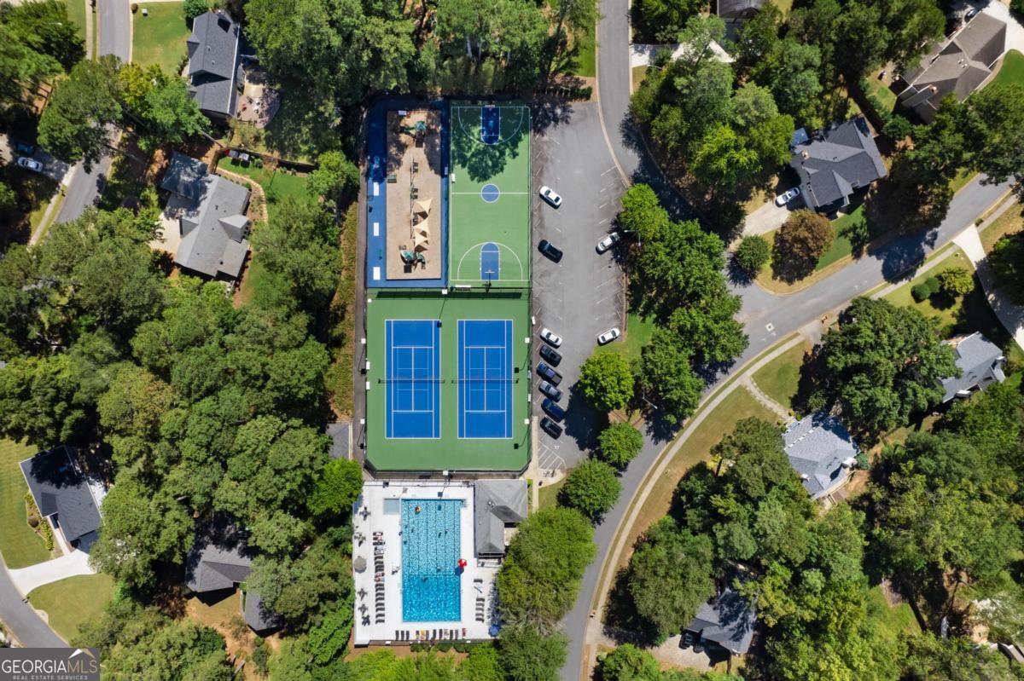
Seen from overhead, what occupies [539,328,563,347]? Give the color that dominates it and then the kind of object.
white car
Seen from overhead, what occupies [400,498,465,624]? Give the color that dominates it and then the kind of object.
blue swimming pool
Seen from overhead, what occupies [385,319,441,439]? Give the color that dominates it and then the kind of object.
blue tennis court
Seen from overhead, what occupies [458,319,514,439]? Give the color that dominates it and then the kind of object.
blue tennis court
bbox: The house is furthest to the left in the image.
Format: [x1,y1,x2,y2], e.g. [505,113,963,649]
[19,445,100,542]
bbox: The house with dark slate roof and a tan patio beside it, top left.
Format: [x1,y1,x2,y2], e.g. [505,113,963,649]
[185,8,249,120]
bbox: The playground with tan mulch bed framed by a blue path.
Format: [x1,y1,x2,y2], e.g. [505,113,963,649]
[367,98,448,287]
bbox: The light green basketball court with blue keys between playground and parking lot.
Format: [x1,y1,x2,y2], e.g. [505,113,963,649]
[449,100,530,287]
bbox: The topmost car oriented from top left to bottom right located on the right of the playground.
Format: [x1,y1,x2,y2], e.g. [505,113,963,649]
[539,187,563,206]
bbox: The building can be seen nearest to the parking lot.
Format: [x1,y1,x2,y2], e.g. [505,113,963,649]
[474,478,528,564]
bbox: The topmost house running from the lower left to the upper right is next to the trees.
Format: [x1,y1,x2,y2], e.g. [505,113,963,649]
[889,11,1007,117]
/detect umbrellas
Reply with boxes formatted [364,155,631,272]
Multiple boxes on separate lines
[354,558,367,571]
[458,557,467,568]
[489,625,501,637]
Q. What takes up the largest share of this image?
trees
